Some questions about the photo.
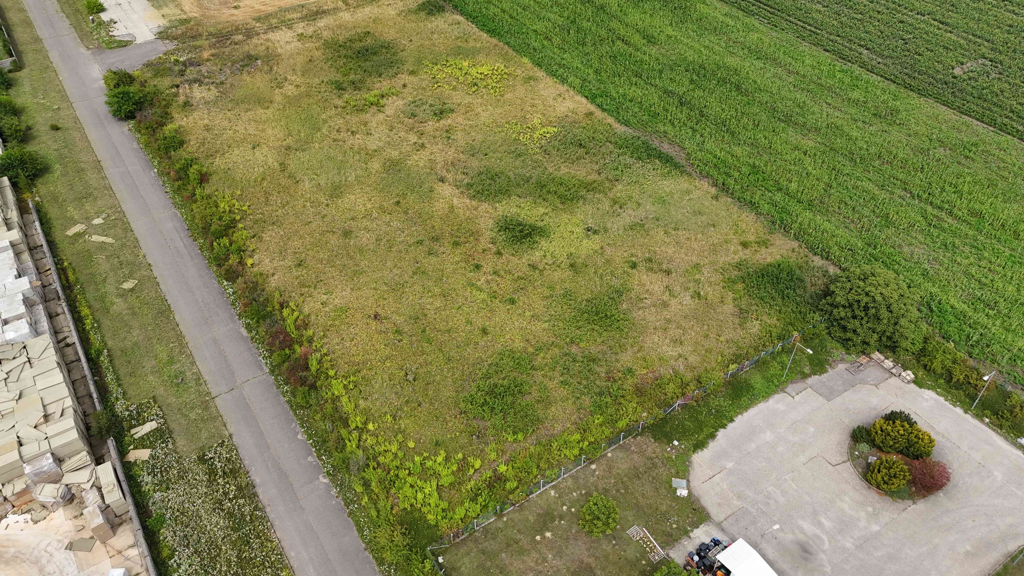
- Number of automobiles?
0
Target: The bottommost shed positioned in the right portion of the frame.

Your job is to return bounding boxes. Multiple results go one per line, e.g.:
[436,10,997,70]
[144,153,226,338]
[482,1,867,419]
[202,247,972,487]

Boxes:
[713,538,780,576]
